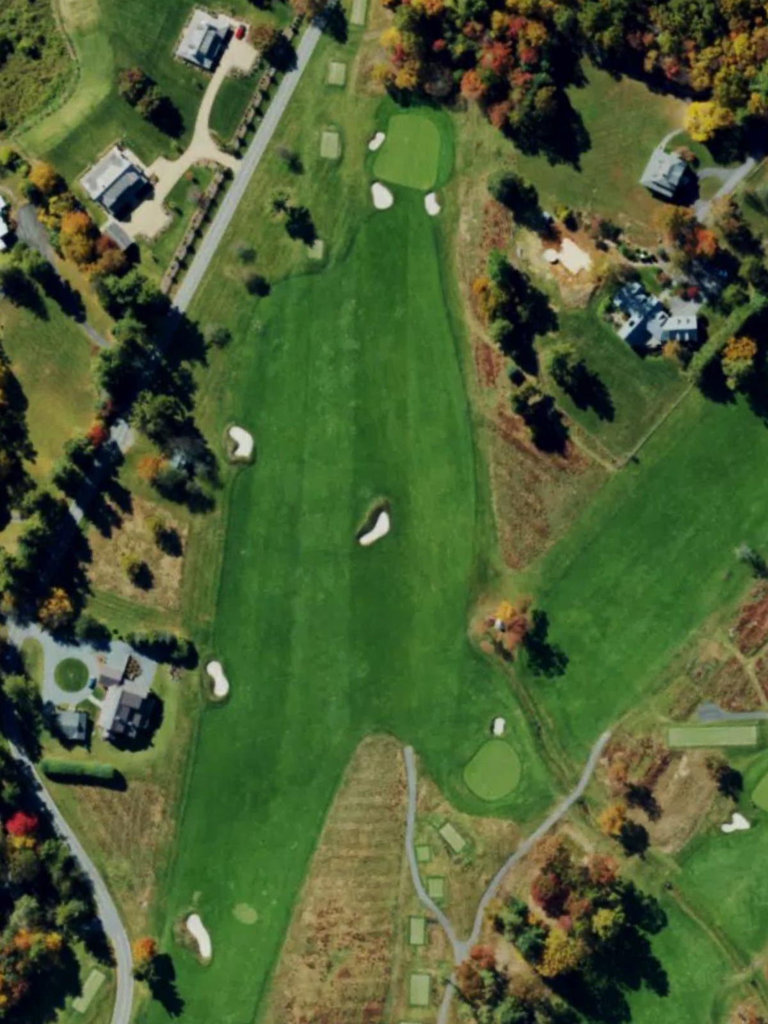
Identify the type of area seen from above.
golf course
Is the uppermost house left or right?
left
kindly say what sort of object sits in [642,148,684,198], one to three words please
house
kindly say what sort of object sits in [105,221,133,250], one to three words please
building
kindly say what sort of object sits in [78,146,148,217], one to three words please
house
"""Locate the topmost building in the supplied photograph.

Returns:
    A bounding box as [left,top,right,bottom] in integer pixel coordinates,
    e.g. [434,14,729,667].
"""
[177,11,230,70]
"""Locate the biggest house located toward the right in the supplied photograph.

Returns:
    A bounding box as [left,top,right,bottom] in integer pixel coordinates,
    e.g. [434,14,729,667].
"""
[612,283,698,348]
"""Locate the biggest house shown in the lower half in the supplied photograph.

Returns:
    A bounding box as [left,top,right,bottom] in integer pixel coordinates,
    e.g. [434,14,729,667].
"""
[98,657,142,736]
